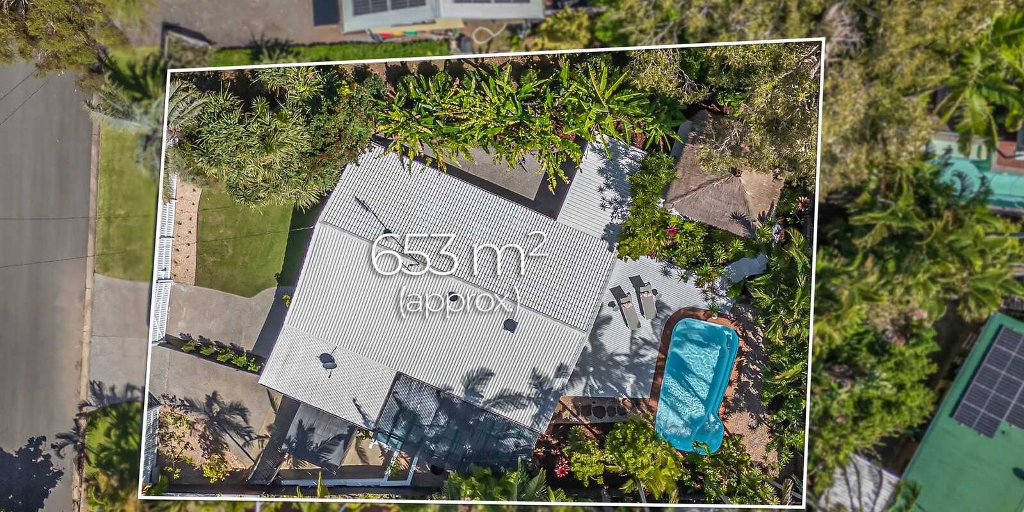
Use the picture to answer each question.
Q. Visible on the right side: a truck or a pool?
pool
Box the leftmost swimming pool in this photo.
[649,309,748,461]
